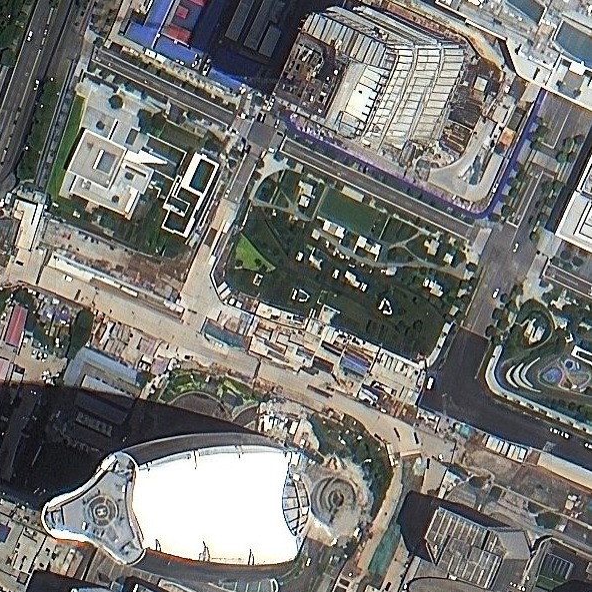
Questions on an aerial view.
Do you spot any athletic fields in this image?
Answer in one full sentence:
Yes, there is an athletic field in the image.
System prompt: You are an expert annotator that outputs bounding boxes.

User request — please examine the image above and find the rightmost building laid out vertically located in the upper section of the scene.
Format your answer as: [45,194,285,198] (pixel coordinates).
[555,159,592,251]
